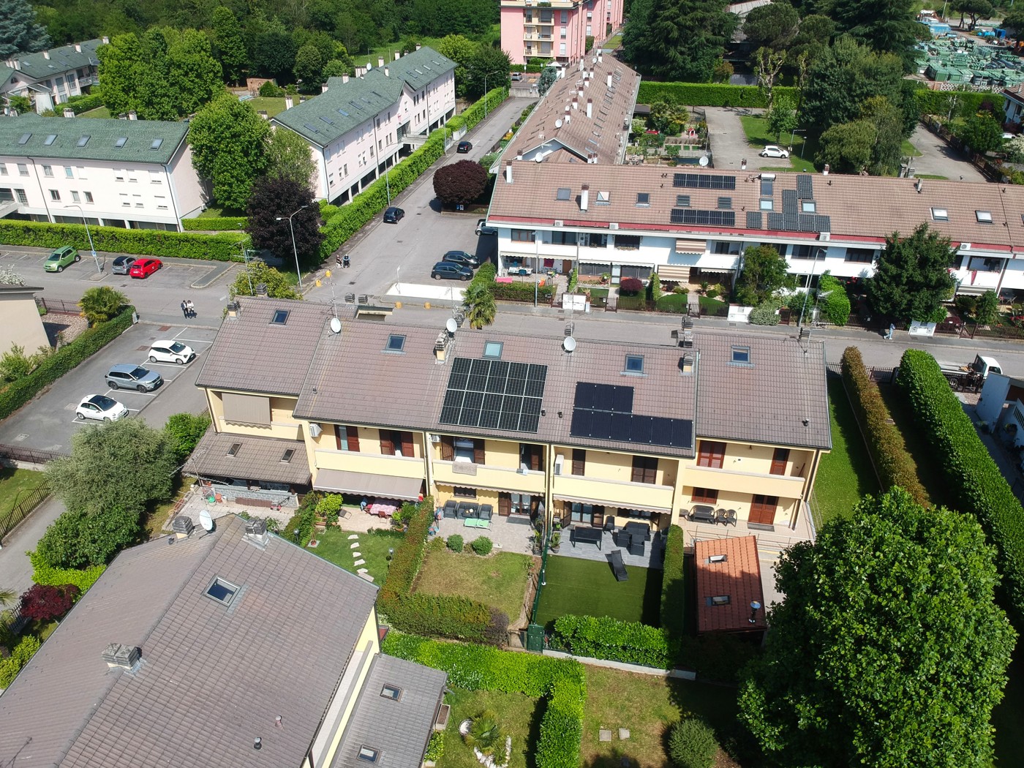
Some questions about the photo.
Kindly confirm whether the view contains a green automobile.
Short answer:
Yes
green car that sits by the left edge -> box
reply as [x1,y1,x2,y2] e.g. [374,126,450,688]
[37,244,82,271]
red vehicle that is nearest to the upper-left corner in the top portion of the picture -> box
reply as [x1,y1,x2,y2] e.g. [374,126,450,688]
[126,254,168,276]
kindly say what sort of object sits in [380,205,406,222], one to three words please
car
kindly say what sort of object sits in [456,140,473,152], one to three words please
vehicle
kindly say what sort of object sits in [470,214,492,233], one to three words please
car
